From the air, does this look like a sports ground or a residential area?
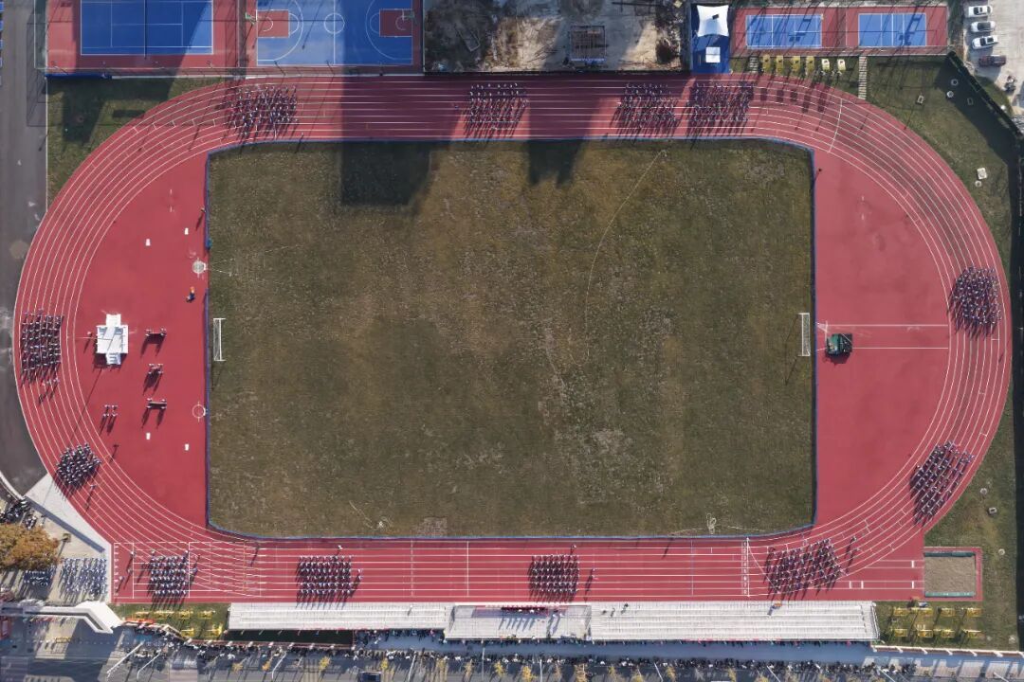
sports ground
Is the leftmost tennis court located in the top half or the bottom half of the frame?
top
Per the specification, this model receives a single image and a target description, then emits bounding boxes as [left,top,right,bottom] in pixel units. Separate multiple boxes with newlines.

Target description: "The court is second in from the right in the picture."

[733,4,846,54]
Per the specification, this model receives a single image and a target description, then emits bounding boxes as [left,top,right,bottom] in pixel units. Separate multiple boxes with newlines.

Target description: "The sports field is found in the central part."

[207,142,814,538]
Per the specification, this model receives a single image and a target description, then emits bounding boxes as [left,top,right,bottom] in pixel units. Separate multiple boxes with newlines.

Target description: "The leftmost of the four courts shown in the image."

[47,0,238,76]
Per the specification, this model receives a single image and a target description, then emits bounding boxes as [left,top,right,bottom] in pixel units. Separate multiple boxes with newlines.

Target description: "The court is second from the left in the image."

[246,0,422,76]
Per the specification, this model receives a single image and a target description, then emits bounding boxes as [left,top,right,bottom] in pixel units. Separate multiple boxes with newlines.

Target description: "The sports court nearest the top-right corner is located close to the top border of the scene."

[846,4,948,54]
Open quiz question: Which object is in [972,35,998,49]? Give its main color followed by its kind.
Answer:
white car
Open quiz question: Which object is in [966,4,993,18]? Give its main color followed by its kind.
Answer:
white car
